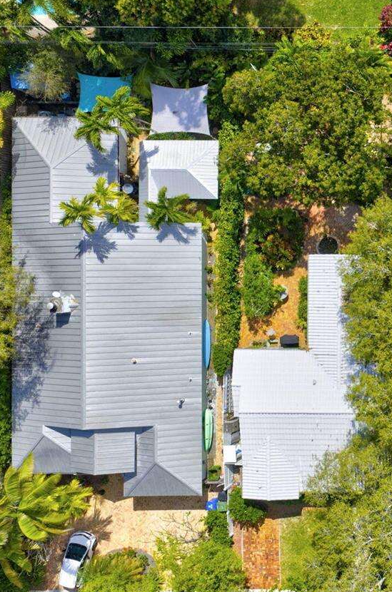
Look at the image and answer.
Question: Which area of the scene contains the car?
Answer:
bottom left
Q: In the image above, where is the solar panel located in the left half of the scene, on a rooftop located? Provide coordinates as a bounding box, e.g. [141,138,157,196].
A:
[55,311,69,328]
